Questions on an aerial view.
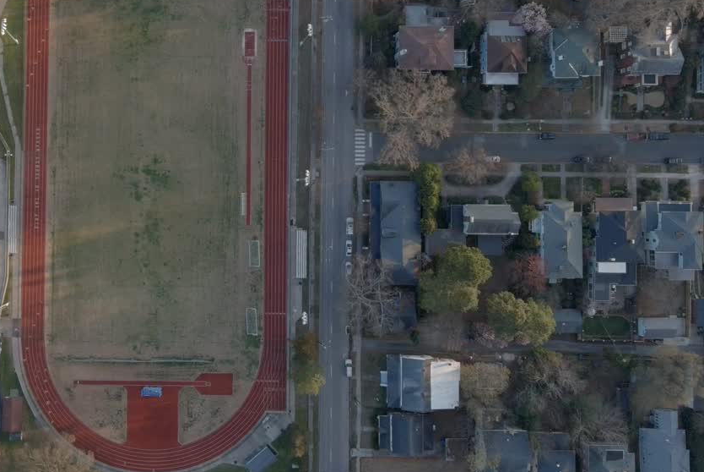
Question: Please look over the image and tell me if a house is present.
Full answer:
Yes, the frame does contain a house.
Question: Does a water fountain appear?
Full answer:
No, the picture doesn't show any water fountain.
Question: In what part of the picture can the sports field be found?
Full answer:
The sports field is located in the left region of the scene.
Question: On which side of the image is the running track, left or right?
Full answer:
The running track appears in the left half of the scene.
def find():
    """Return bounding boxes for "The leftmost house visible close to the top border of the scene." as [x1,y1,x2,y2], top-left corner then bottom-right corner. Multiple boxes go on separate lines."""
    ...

[392,6,467,74]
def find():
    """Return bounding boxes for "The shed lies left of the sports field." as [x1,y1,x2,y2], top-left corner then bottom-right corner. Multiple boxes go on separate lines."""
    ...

[2,396,22,434]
